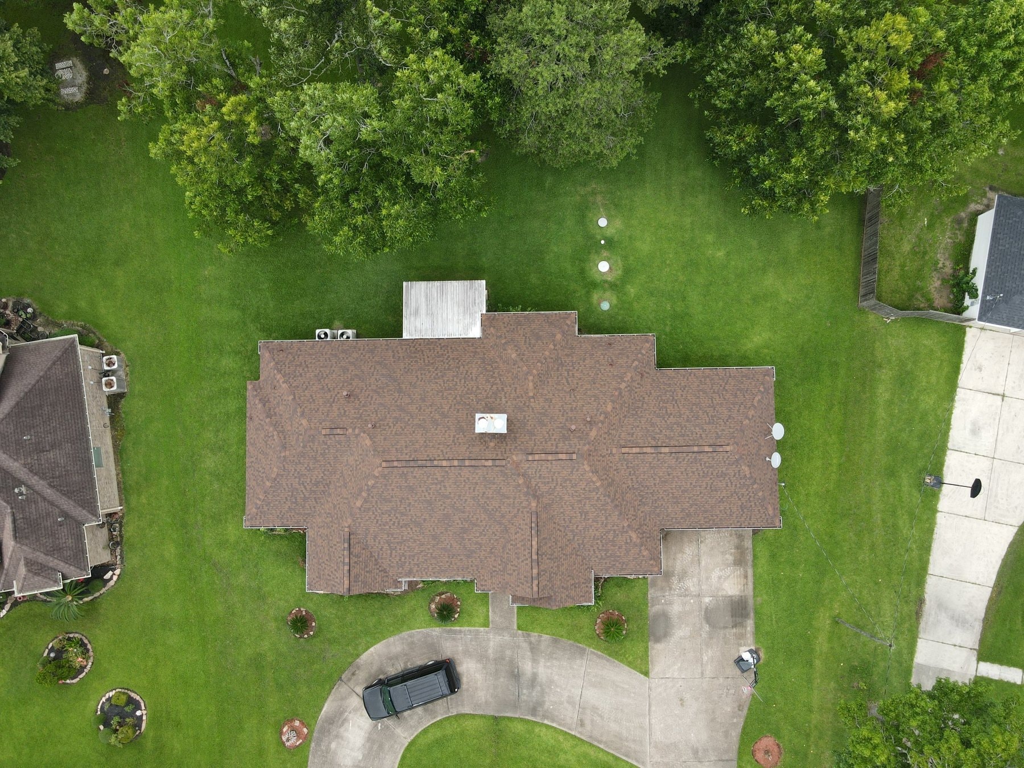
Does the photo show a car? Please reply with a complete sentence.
Yes, there's a car here.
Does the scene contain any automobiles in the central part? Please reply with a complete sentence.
No, I see no automobile in the central part.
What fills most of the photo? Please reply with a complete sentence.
The scene is dominated by grass.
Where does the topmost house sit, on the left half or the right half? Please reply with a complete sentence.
It is on the right.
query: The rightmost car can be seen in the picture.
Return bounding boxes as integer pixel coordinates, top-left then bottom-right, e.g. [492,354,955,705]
[363,656,462,722]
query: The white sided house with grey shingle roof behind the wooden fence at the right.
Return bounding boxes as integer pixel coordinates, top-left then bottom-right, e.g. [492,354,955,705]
[962,193,1024,338]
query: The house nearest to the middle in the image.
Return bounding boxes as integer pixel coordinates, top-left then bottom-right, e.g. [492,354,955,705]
[244,311,783,611]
